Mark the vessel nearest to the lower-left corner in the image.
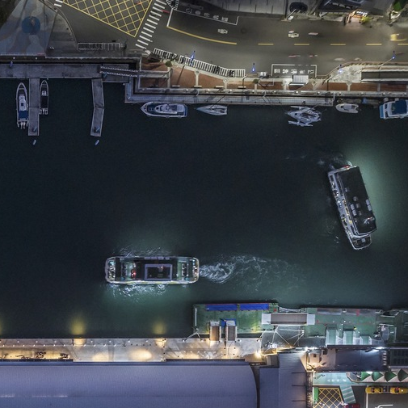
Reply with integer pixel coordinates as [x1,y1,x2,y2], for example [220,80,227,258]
[103,256,197,285]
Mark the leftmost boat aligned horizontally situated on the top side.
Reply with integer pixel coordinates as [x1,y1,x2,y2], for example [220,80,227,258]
[141,101,187,118]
